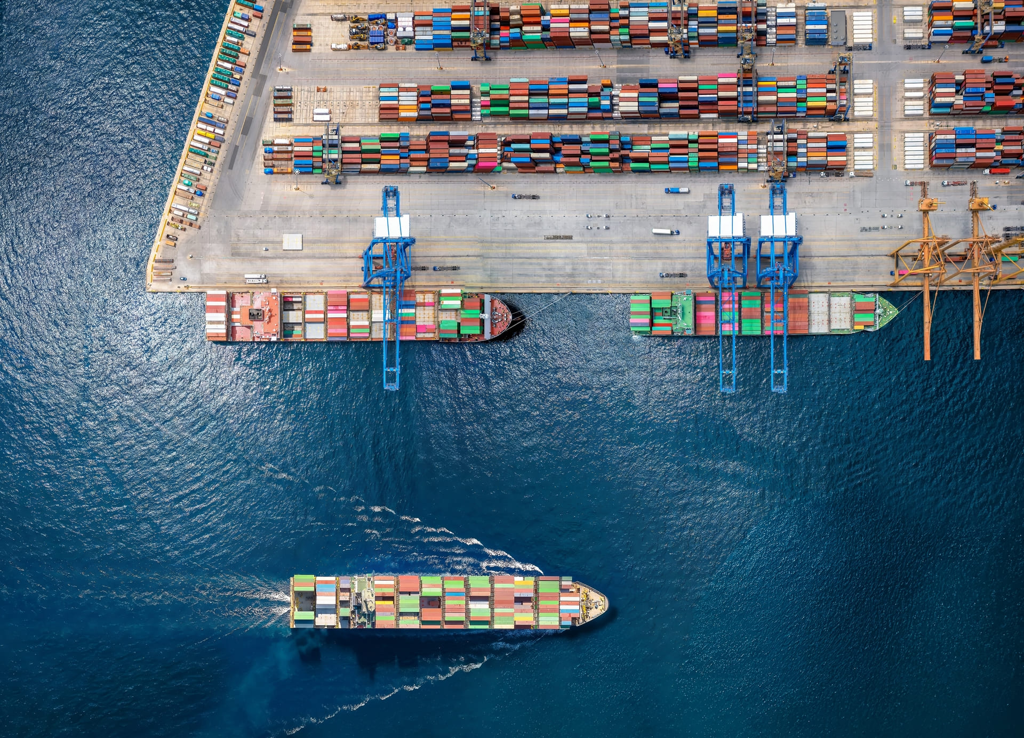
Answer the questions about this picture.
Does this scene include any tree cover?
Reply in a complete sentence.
No, the picture contains no tree cover.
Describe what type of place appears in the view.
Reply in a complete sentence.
This image shows a port.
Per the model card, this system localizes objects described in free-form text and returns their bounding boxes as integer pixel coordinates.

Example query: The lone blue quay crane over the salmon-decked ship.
[371,184,425,397]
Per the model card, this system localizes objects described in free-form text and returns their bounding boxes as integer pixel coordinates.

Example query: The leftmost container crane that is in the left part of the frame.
[322,117,352,187]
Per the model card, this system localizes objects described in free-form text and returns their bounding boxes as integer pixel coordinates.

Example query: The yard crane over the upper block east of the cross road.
[960,0,996,56]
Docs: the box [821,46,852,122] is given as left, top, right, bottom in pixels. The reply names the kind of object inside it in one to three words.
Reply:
container crane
